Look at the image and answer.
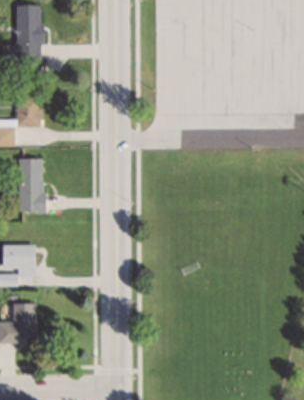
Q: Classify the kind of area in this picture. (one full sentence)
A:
This image shows a sports ground.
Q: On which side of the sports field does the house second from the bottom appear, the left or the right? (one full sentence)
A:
You can see the house second from the bottom positioned to the left of the sports field.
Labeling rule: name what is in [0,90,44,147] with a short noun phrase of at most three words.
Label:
house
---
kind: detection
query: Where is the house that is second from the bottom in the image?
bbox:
[0,244,36,288]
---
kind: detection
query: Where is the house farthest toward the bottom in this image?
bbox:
[0,304,36,355]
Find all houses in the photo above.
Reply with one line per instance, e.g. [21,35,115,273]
[0,304,36,355]
[14,5,44,61]
[0,244,36,288]
[0,90,44,147]
[18,159,46,214]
